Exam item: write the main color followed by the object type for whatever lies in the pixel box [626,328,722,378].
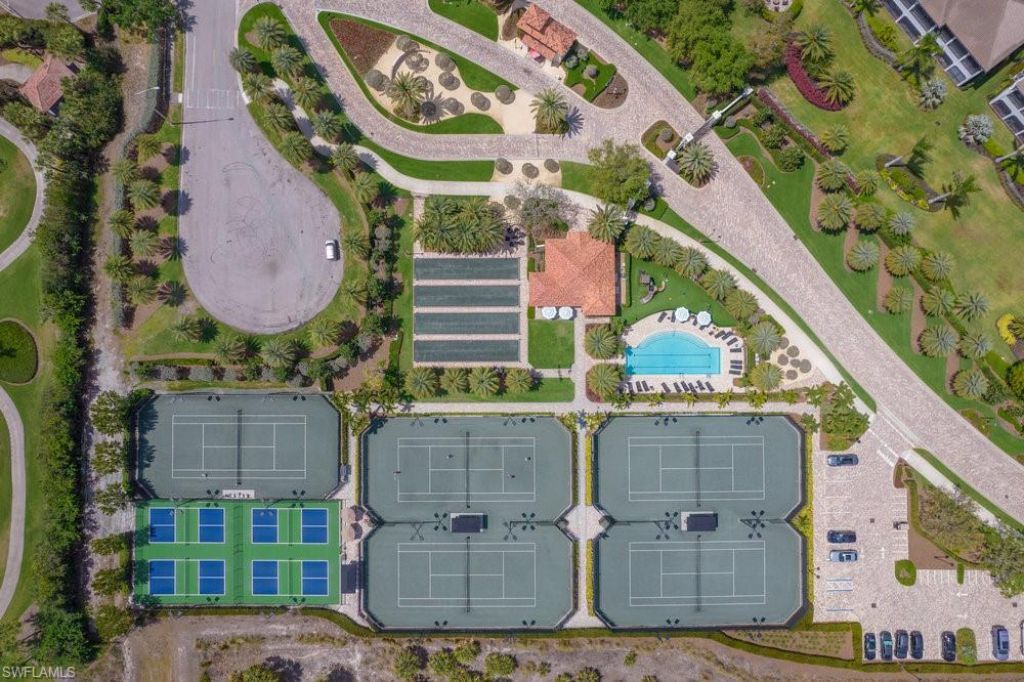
blue swimming pool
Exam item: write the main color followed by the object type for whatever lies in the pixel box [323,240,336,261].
white vehicle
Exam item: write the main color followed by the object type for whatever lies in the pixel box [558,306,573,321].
white umbrella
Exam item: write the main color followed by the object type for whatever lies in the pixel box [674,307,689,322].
white umbrella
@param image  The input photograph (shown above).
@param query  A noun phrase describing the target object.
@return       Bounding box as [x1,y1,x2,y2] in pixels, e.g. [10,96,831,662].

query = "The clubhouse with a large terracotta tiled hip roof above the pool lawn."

[529,231,616,317]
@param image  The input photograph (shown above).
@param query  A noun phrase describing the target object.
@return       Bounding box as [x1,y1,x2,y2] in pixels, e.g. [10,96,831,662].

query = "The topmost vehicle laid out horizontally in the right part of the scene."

[827,454,858,467]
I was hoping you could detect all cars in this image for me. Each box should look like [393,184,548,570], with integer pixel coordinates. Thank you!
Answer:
[827,454,858,467]
[991,626,1010,661]
[941,631,957,661]
[909,630,925,660]
[879,630,894,660]
[894,629,910,659]
[829,550,858,563]
[323,240,336,261]
[827,530,857,544]
[863,632,877,660]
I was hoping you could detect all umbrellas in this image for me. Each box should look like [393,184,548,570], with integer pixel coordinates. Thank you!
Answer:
[339,505,355,521]
[339,524,355,540]
[541,306,557,321]
[558,306,573,321]
[529,51,539,61]
[696,311,711,326]
[674,307,689,322]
